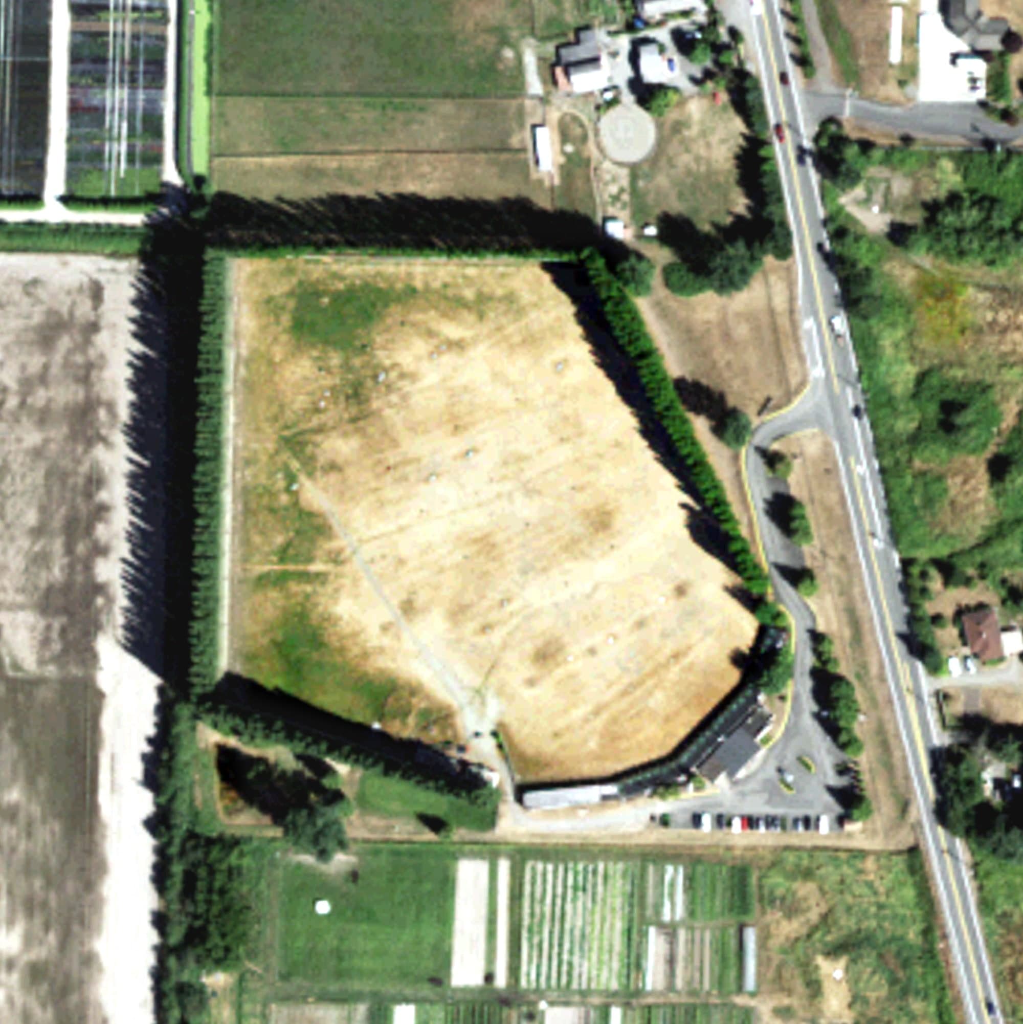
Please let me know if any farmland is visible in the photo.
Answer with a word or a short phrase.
Yes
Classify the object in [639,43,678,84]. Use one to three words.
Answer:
building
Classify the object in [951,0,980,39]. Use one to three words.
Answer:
house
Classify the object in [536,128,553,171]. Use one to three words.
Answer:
barn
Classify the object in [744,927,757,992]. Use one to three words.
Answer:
greenhouse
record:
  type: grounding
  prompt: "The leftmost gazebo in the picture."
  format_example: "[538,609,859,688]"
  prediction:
[316,900,330,914]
